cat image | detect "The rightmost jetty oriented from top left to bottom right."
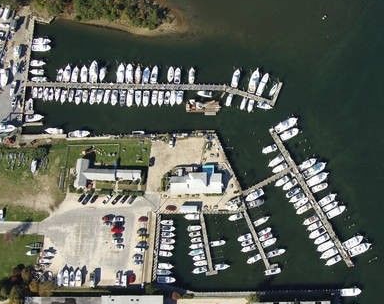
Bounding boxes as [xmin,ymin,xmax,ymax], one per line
[269,128,353,268]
